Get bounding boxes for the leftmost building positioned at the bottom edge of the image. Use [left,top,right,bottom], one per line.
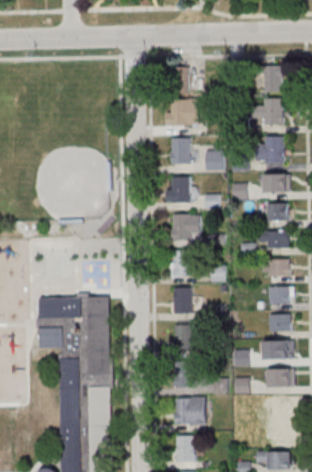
[38,292,114,472]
